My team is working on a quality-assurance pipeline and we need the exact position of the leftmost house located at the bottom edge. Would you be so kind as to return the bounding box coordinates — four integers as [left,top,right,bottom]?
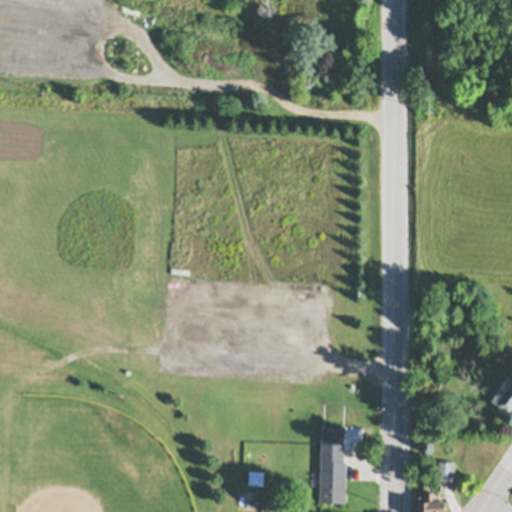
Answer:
[320,422,347,506]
